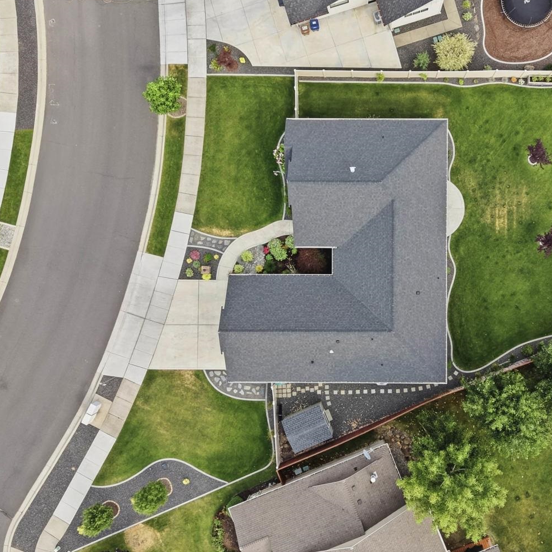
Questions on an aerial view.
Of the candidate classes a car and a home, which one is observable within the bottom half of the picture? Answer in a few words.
home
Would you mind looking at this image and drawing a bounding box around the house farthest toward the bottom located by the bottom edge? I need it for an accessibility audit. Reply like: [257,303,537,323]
[227,442,451,552]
